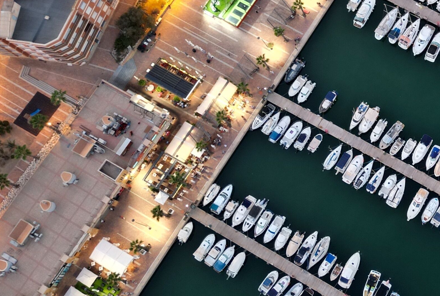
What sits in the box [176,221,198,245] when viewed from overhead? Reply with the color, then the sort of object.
white boat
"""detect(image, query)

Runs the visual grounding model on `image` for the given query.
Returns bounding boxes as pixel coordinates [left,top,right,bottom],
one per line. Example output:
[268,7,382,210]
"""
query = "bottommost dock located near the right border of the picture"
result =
[267,91,440,195]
